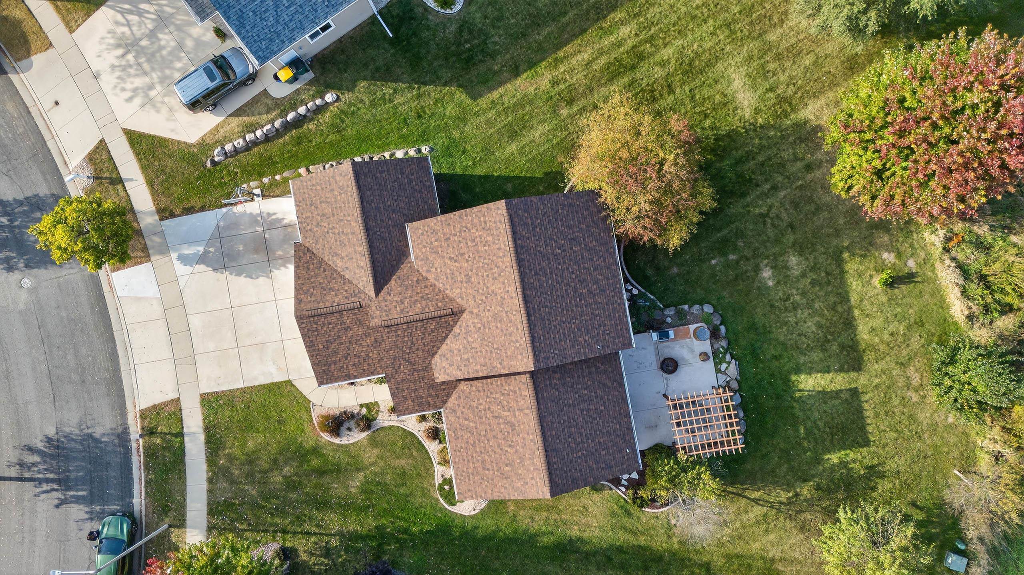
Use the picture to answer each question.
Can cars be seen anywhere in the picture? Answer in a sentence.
Yes, looking at the shot, I can spot a car.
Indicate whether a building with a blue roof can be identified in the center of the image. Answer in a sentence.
No, in the center of the image there is no building with a blue roof.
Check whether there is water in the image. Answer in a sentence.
No, there is no water in the image.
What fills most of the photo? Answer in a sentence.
What you mostly see from above here is grass.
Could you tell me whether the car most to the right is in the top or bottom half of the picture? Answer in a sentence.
Seen from above, the car most to the right lies in the top half of the view.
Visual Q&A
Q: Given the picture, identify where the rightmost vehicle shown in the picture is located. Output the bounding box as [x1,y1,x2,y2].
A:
[171,46,257,116]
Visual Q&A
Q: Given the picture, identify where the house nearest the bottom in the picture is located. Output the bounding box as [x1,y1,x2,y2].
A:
[288,157,642,503]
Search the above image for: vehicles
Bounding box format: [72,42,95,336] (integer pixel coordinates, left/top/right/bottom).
[94,512,138,575]
[171,46,257,116]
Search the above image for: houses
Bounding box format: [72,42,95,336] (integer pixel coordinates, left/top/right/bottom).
[288,157,642,503]
[176,0,397,79]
